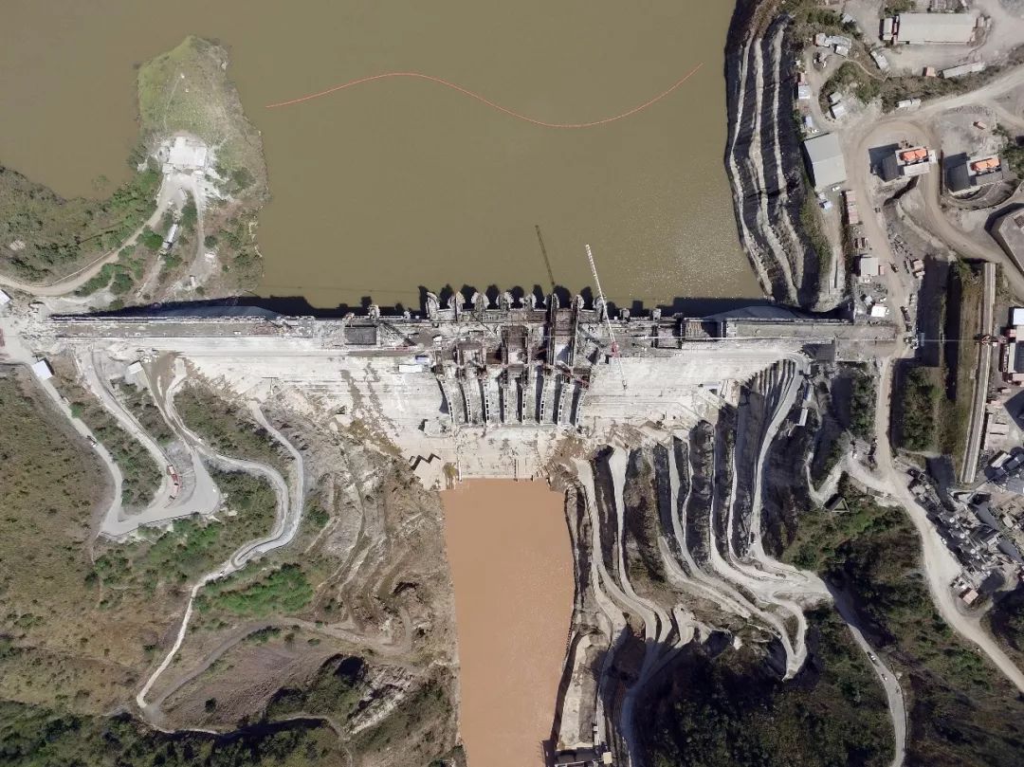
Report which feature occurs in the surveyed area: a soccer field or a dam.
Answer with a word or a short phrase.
dam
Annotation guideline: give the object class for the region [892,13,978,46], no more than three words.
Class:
building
